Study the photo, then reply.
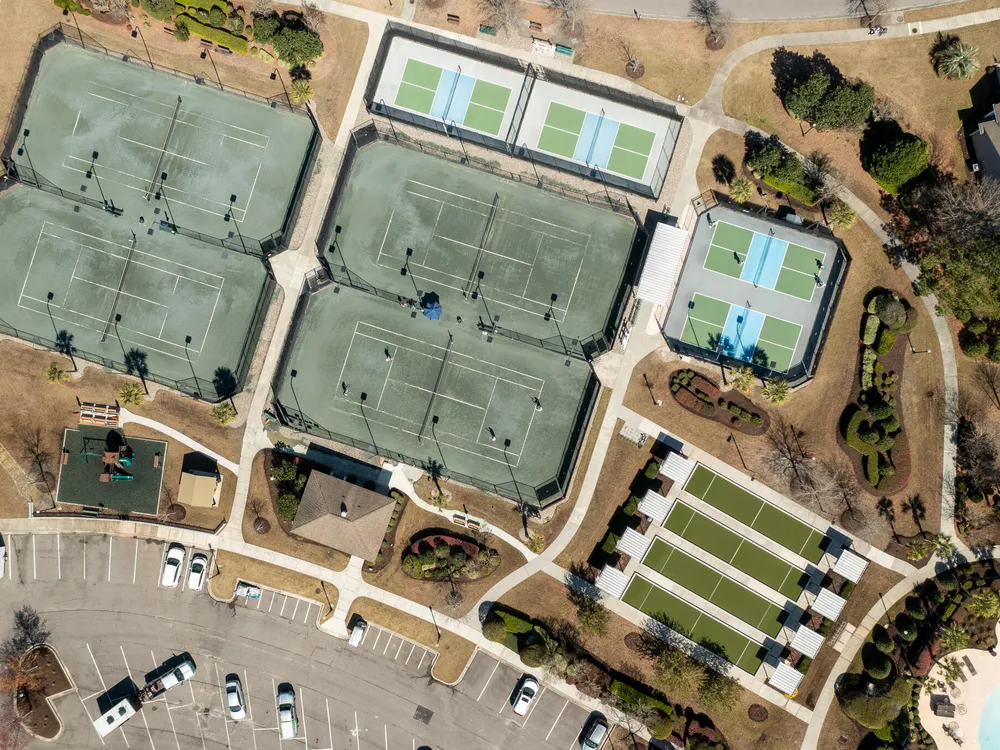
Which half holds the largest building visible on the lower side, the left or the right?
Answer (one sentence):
It is on the left.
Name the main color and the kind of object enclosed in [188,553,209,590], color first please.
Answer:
white car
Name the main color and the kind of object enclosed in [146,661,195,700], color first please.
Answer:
white truck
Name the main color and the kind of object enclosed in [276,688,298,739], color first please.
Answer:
white truck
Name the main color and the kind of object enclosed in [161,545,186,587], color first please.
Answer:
white car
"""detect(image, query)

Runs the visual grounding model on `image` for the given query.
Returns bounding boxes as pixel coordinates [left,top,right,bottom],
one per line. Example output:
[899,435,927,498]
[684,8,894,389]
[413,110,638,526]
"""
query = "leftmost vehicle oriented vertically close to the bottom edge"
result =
[226,678,247,718]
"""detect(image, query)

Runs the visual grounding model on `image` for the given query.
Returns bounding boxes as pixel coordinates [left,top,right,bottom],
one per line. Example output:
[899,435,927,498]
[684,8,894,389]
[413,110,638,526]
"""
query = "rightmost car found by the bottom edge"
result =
[580,717,609,750]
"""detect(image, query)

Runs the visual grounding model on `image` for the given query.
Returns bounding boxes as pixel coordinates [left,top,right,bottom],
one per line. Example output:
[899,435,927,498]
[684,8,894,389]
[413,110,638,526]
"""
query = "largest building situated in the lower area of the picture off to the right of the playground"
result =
[290,470,397,561]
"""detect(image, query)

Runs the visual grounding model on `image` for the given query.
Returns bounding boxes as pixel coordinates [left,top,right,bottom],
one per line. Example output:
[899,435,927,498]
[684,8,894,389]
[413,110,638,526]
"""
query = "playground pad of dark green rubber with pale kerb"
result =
[56,425,168,516]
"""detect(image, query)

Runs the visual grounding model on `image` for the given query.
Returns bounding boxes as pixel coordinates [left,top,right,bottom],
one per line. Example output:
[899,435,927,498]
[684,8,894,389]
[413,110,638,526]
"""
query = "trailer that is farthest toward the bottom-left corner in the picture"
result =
[92,692,147,737]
